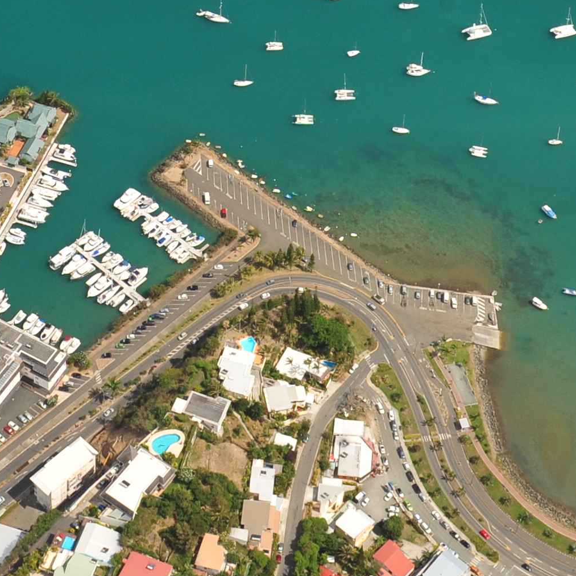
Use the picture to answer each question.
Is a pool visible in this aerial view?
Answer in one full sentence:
Yes, the photo shows a pool.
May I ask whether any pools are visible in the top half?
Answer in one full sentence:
No, no pool can be made out in the top half.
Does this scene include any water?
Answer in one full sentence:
Yes, some water is visible.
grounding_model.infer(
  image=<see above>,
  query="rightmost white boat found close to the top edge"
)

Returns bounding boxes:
[550,8,576,38]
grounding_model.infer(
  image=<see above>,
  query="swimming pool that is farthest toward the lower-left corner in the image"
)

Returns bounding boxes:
[60,535,75,551]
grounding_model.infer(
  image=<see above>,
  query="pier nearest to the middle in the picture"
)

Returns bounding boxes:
[131,208,210,265]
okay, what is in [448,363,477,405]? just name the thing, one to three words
sports court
